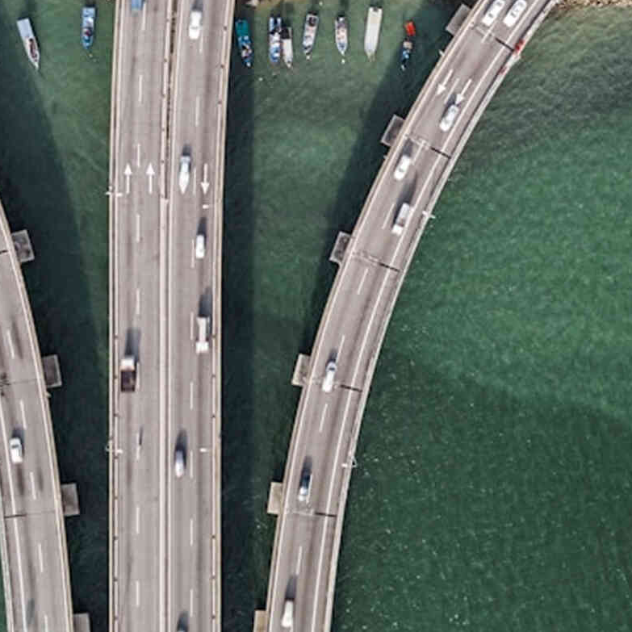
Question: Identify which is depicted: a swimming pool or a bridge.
bridge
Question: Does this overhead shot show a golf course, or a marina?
marina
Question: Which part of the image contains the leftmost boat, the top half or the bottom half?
top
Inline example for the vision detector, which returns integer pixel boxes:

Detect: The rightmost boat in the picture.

[399,17,415,79]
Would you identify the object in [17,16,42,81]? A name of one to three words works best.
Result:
boat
